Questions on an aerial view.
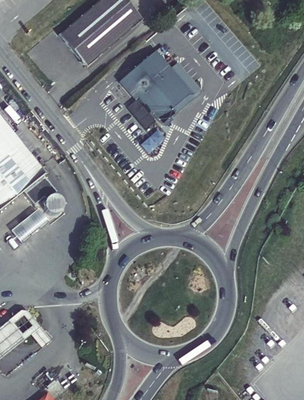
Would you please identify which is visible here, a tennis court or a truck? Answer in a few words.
truck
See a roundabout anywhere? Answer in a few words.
Yes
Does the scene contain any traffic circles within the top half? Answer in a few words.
No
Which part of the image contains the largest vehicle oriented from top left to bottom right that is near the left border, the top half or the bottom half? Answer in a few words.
top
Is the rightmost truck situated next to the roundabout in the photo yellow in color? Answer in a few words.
No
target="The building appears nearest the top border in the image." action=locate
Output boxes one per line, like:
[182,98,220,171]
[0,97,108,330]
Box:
[59,0,142,64]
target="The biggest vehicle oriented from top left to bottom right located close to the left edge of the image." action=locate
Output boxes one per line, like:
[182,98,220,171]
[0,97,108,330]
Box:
[4,106,24,127]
